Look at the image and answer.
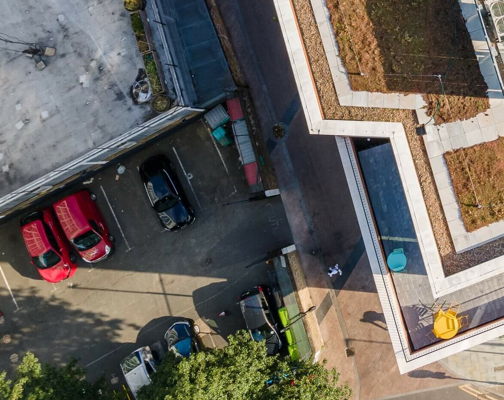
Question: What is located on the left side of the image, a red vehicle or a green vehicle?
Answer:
red vehicle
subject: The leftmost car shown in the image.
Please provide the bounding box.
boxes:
[16,207,76,287]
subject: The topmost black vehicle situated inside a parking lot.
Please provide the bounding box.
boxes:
[140,152,199,234]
